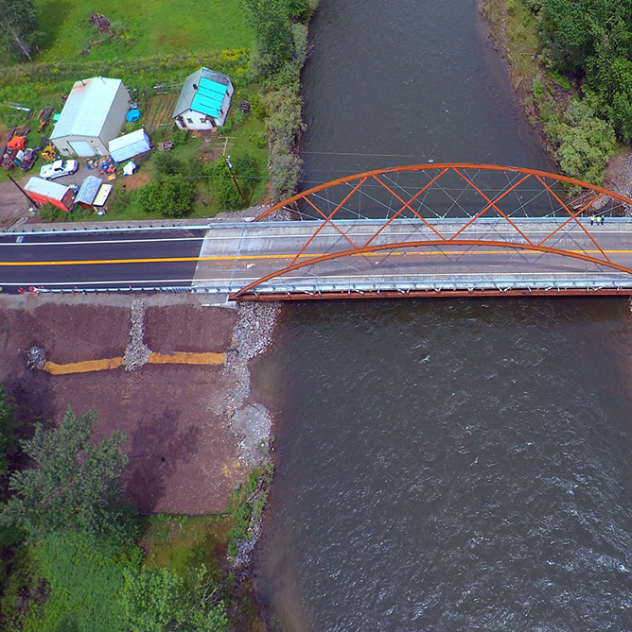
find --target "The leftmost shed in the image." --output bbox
[23,172,79,210]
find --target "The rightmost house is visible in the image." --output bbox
[169,73,226,132]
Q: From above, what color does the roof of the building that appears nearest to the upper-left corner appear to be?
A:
white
